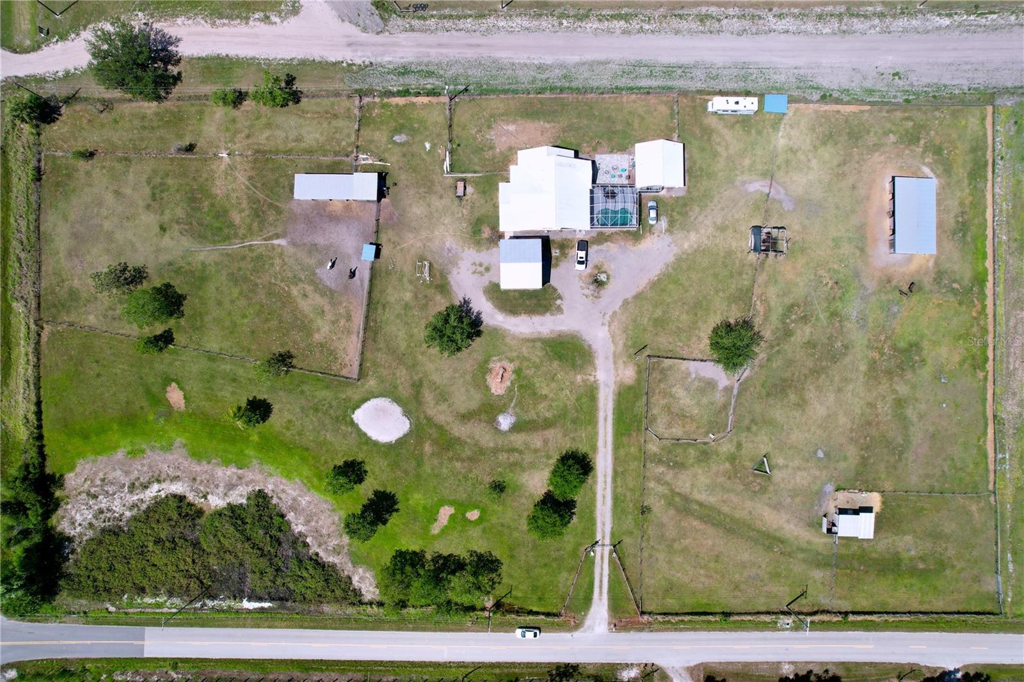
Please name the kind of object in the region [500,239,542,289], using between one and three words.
building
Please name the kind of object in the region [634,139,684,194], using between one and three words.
house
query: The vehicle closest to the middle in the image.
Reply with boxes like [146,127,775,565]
[575,240,588,271]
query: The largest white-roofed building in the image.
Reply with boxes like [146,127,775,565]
[499,145,593,235]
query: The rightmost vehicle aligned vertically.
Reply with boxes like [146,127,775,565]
[647,200,659,224]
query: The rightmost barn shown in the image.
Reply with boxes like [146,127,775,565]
[886,174,936,254]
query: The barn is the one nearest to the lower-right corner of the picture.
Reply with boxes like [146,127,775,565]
[822,509,875,538]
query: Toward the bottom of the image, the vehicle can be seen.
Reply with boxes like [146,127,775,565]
[516,627,540,640]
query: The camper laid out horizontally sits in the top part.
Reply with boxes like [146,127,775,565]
[706,97,760,114]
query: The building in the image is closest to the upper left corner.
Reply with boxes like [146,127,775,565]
[293,172,378,201]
